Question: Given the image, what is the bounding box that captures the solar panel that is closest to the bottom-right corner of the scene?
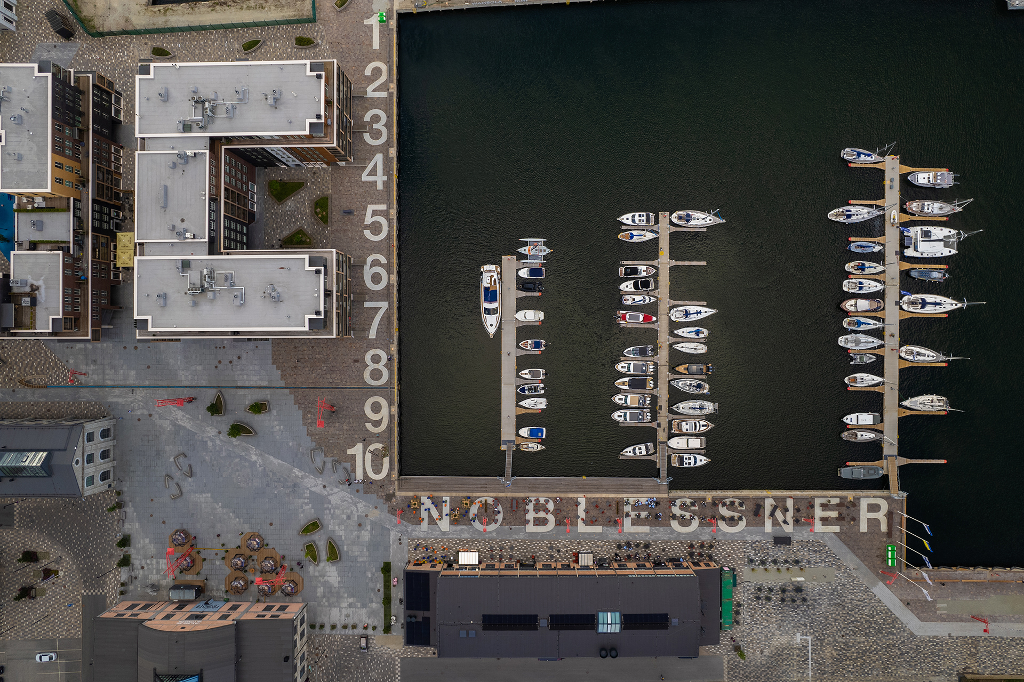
[622,615,669,631]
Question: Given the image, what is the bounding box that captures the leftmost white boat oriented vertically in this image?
[480,263,502,339]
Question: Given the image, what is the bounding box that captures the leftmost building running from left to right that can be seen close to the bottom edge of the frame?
[92,593,308,682]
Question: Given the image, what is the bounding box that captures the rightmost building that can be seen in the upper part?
[133,58,358,339]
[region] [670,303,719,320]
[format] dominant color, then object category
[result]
white boat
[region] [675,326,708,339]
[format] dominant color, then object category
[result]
white boat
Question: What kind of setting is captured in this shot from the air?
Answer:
port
